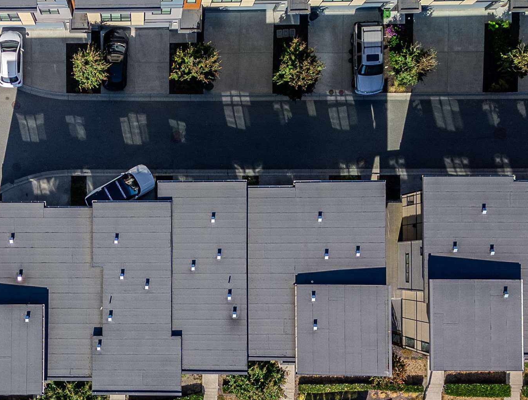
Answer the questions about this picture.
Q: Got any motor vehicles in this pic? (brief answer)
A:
Yes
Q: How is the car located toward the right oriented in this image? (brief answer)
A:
vertically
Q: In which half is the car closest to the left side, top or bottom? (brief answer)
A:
top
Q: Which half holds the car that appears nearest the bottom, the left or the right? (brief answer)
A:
left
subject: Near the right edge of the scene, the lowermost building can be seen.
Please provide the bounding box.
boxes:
[392,174,528,371]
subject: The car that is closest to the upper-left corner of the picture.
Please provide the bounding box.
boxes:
[0,28,26,90]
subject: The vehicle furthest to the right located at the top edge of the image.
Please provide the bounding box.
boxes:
[351,20,389,96]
